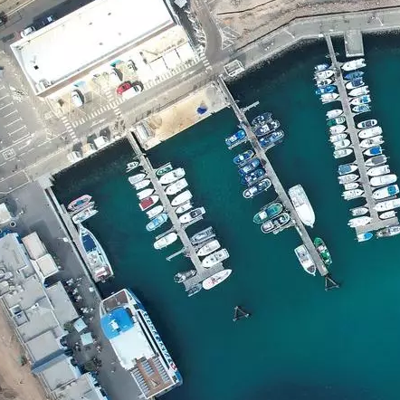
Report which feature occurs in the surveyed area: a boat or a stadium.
boat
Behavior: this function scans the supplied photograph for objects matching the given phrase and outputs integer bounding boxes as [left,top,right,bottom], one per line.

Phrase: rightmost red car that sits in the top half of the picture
[116,82,133,94]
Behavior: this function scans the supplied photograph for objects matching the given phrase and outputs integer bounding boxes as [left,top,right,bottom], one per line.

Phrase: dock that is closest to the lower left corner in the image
[49,188,95,249]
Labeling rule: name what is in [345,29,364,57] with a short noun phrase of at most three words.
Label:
pier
